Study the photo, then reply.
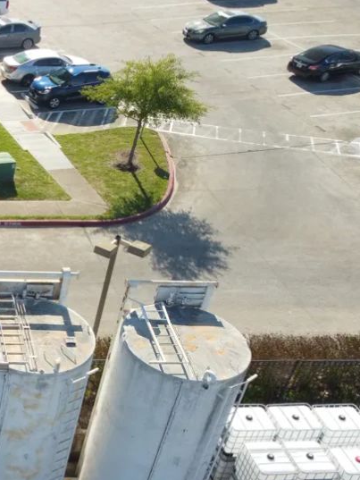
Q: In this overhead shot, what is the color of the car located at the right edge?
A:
black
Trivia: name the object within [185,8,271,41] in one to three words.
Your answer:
car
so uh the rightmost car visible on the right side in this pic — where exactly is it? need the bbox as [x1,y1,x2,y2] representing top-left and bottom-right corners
[292,42,360,77]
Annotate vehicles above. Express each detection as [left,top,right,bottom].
[292,42,360,77]
[0,18,46,47]
[30,57,122,99]
[0,45,83,81]
[185,8,271,41]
